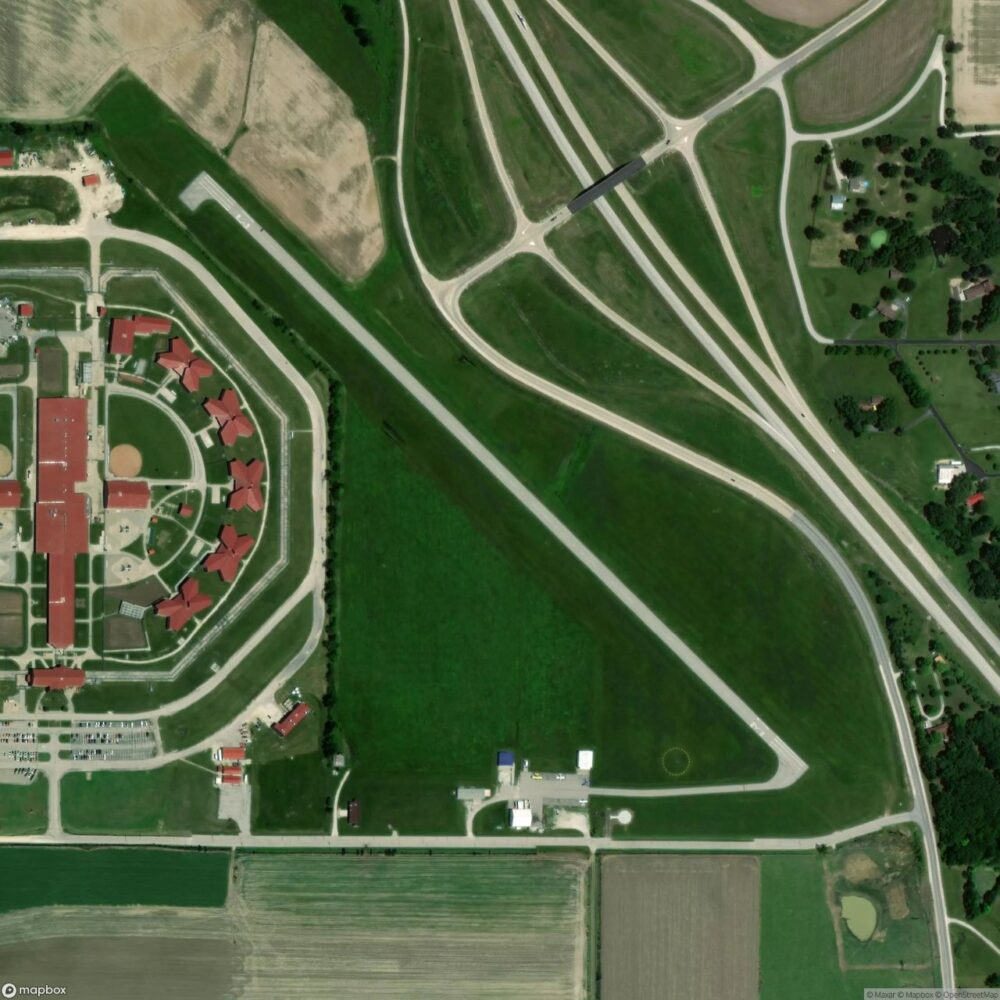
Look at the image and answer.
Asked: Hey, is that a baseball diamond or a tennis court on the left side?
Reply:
baseball diamond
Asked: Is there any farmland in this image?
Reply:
Yes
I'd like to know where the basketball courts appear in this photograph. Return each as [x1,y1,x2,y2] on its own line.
[105,511,147,551]
[0,511,16,551]
[0,556,16,583]
[104,553,155,586]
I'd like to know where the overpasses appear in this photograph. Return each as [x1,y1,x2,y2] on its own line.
[567,156,646,214]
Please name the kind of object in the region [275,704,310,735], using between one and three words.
shed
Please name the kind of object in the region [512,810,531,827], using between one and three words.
hangar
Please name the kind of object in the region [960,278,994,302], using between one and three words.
house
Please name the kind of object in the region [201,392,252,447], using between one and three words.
building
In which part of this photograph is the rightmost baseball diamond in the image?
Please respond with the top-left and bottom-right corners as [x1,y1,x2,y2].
[107,388,190,478]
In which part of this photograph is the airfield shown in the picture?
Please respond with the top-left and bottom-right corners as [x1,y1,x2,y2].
[180,172,809,821]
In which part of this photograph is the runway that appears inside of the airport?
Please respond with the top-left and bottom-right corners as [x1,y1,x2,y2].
[208,174,807,764]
